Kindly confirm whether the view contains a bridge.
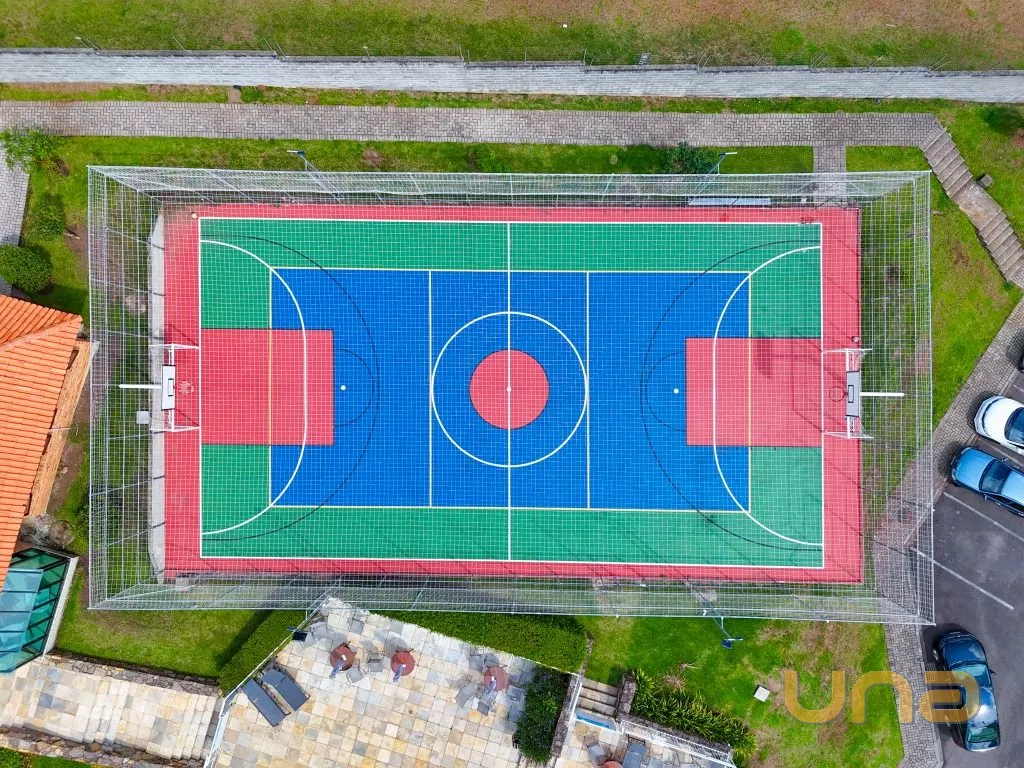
No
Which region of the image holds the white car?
right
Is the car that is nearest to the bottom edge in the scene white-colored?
No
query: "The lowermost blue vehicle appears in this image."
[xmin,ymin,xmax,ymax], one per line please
[932,631,1002,752]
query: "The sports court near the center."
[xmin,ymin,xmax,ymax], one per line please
[164,204,862,583]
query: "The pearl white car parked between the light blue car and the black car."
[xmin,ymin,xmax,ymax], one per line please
[975,395,1024,456]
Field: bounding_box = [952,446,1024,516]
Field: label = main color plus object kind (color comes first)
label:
blue car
